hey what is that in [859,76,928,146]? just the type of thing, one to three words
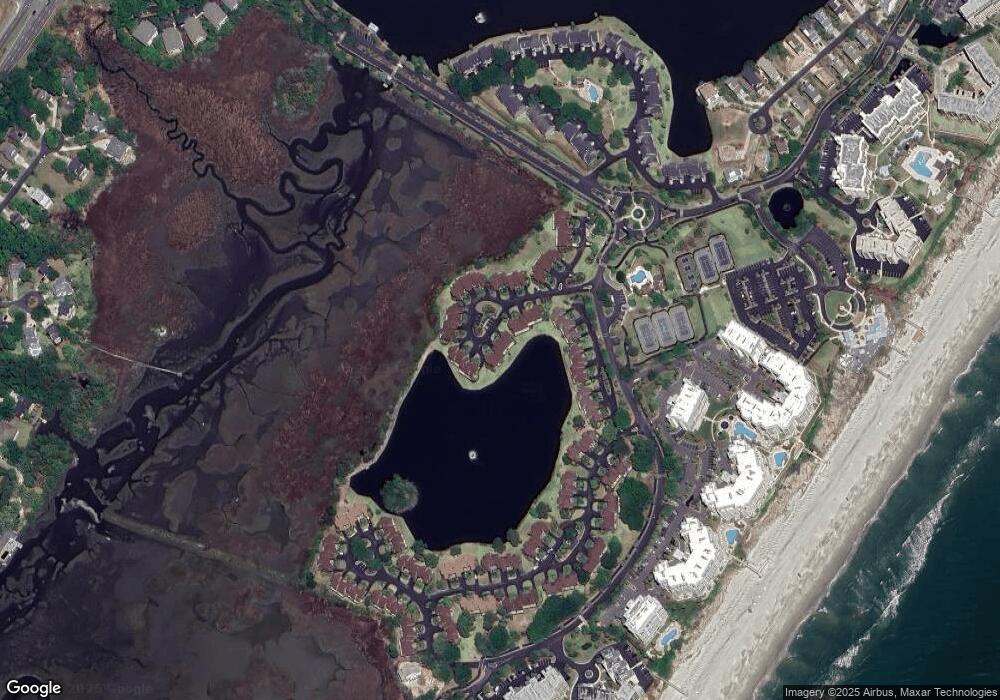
building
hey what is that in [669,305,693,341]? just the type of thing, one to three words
tennis court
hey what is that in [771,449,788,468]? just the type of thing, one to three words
swimming pool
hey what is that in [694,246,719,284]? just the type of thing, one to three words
tennis court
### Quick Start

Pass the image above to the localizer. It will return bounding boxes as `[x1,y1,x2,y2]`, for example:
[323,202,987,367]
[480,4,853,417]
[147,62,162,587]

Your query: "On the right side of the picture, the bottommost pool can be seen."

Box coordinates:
[655,624,681,655]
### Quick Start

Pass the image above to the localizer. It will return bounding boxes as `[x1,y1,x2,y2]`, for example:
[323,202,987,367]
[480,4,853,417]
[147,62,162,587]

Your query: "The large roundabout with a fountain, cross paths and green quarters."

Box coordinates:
[615,190,661,236]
